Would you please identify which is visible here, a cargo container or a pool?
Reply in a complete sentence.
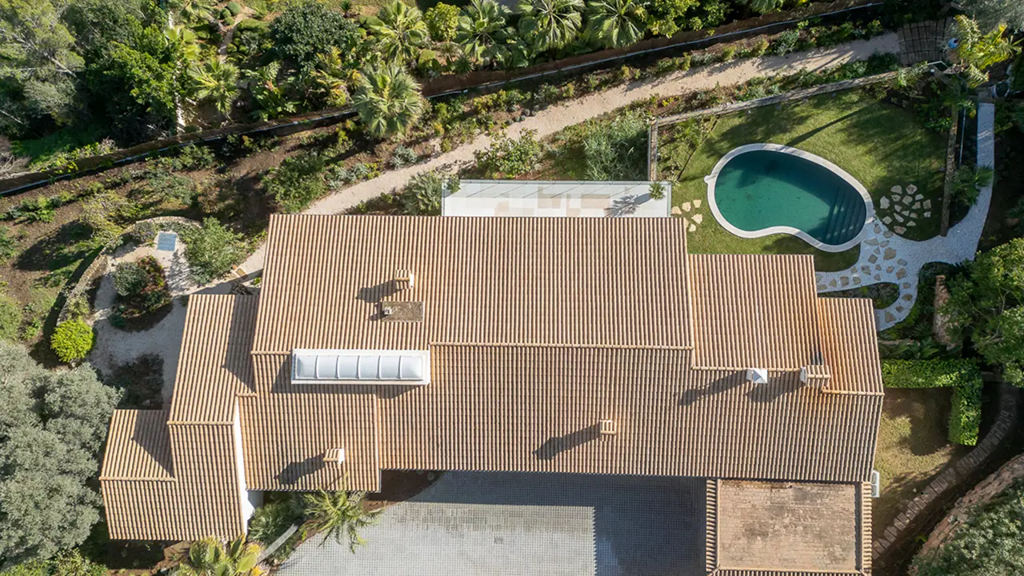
It is a pool that can be seen here.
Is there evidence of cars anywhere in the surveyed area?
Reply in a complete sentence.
No, there's no car here.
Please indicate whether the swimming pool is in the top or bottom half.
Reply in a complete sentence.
The swimming pool is in the top half of the image.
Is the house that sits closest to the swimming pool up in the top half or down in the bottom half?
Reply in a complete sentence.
You can find the house that sits closest to the swimming pool in the bottom half.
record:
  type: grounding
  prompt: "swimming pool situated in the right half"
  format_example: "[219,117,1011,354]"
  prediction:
[704,143,874,251]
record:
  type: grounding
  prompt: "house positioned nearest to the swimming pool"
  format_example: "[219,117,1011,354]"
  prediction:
[97,212,886,542]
